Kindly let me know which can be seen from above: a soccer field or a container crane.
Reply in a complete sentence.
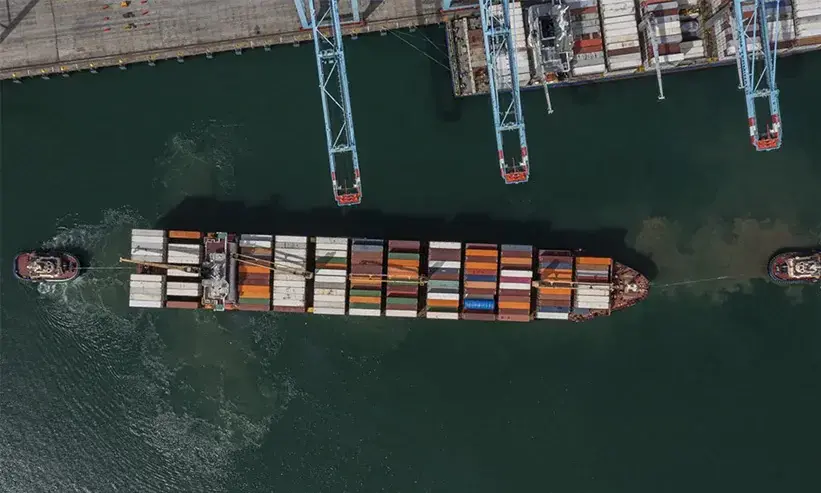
Visible in the photo is a container crane.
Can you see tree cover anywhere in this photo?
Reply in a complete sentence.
No, the picture contains no tree cover.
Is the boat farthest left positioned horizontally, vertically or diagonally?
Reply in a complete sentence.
What the image shows is the boat farthest left lying horizontally.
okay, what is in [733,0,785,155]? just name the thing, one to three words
container crane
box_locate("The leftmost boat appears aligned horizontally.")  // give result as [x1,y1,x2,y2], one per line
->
[11,251,83,282]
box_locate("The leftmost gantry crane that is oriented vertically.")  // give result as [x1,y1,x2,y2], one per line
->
[292,0,368,208]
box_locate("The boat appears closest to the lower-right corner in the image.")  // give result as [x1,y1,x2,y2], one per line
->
[766,251,821,283]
